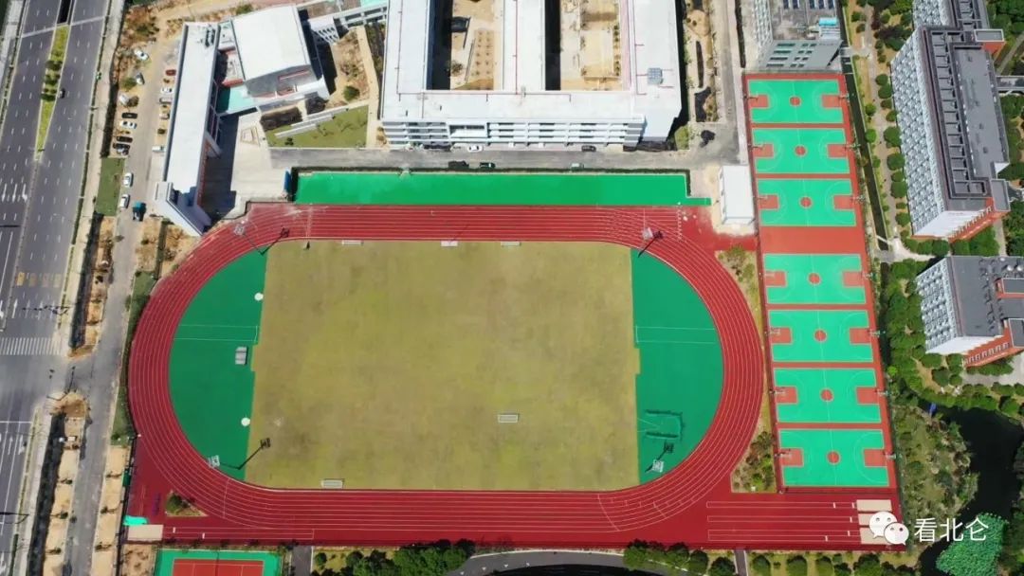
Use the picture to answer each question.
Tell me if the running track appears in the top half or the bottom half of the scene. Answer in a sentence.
It is in the bottom half that the running track appears.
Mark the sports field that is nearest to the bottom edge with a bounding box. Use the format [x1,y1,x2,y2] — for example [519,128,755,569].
[245,240,640,491]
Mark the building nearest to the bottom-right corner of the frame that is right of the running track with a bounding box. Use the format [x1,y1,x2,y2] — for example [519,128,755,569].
[915,257,1024,354]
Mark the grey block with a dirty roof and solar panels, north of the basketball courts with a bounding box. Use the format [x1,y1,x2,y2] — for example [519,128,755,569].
[751,0,844,67]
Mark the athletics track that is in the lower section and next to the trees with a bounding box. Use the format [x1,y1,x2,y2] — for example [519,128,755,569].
[125,203,901,552]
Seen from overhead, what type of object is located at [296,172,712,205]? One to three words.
sports field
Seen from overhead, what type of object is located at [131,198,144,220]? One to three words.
vehicle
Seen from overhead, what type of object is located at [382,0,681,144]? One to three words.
building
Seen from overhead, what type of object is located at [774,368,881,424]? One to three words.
basketball court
